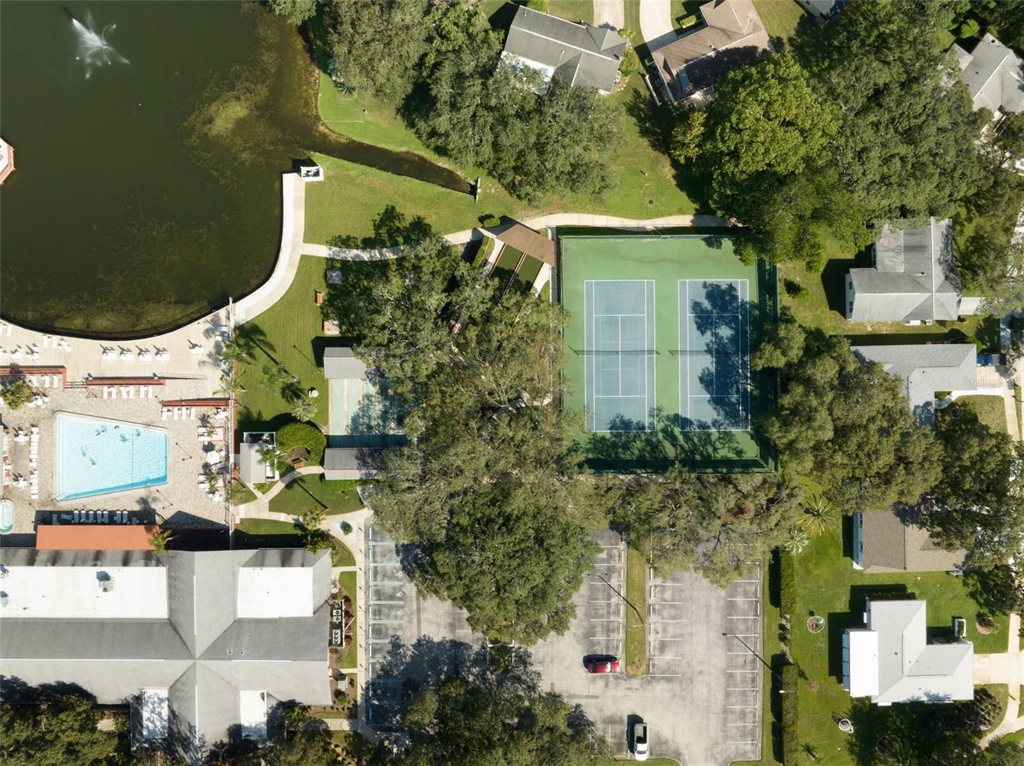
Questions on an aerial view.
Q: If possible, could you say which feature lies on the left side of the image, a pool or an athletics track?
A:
pool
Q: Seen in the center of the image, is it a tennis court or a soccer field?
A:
tennis court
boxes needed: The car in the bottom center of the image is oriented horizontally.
[588,659,619,674]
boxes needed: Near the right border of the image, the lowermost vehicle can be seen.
[976,352,1012,368]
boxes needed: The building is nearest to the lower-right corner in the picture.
[844,598,973,703]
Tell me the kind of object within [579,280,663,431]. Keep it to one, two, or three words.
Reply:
tennis court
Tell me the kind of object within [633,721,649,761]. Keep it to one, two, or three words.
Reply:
vehicle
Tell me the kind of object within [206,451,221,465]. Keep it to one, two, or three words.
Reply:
umbrella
